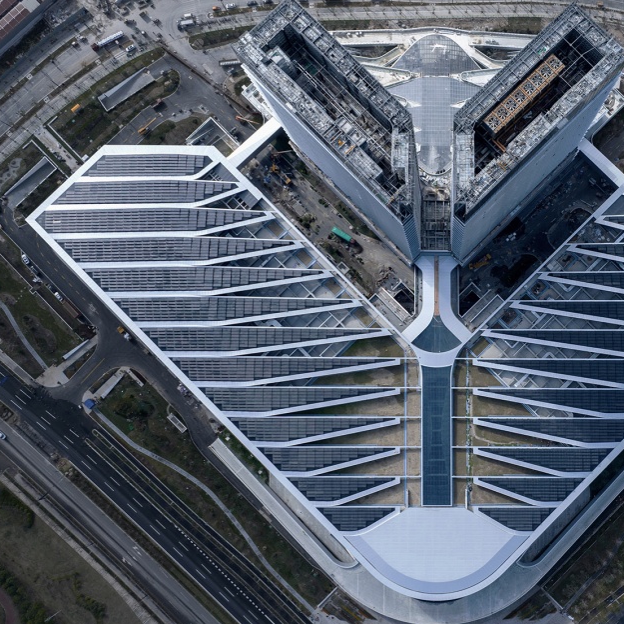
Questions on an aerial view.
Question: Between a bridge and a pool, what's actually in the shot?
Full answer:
Visible in the photo is a bridge.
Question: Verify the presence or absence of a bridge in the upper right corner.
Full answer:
Yes, there is a bridge in the upper right corner.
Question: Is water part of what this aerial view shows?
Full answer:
No, there is no water in the image.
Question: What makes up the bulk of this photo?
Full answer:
The largest share of the image is taken up by buildings.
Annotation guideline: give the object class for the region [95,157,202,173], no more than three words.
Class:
solar array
